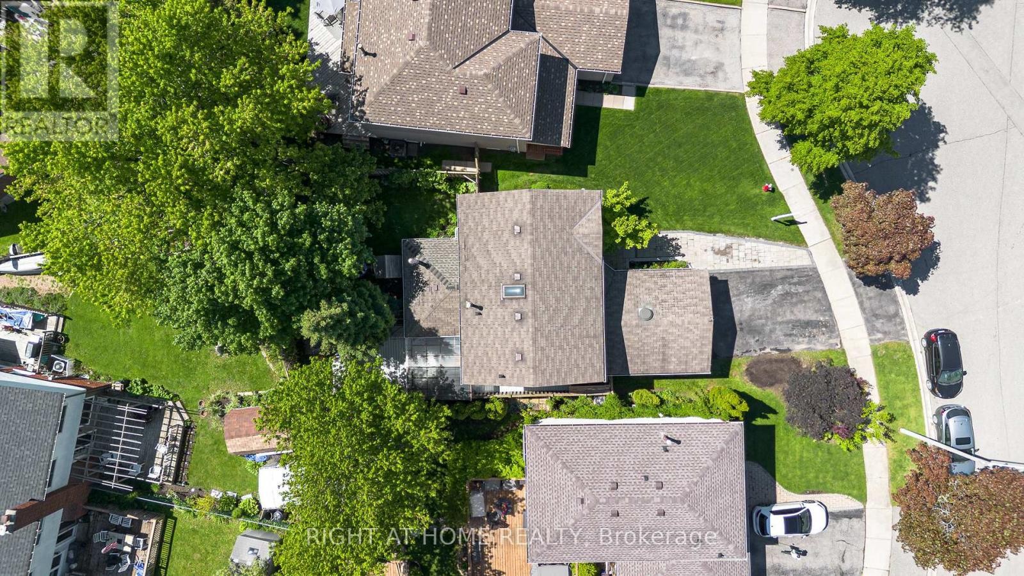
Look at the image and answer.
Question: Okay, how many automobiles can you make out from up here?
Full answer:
The picture shows 3 automobiles.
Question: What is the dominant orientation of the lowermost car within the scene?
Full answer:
The lowermost car is oriented from side to side.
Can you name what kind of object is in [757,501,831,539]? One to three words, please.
car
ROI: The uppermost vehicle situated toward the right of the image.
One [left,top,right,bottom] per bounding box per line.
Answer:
[920,329,966,399]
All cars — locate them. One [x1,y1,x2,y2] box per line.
[757,501,831,539]
[931,405,976,477]
[920,329,966,399]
